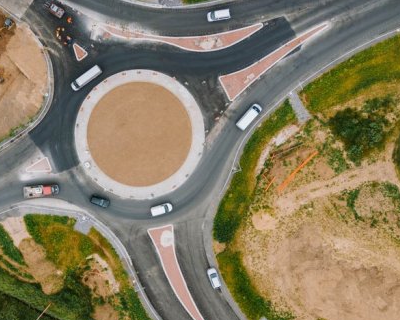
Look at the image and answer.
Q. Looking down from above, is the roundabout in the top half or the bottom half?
top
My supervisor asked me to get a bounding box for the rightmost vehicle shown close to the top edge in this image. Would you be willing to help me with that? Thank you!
[205,8,231,23]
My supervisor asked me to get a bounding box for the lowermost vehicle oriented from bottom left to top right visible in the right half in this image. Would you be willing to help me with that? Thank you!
[235,104,260,130]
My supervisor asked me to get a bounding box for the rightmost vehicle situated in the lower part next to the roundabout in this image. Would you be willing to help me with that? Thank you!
[150,202,173,216]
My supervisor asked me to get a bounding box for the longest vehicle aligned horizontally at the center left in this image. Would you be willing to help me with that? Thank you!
[23,183,59,198]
